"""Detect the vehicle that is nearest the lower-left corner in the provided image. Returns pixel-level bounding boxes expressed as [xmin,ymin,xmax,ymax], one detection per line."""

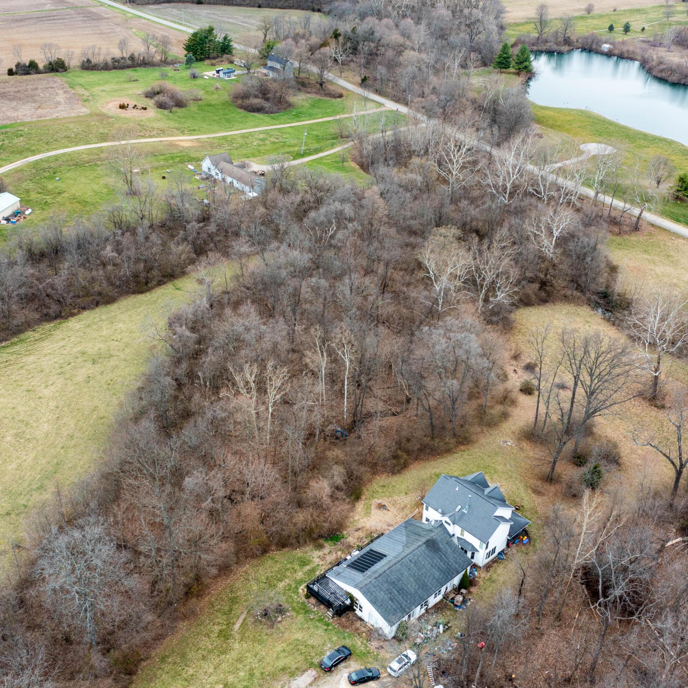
[320,647,351,673]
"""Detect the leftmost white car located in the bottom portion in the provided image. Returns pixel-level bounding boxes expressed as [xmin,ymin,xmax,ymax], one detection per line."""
[387,651,417,677]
